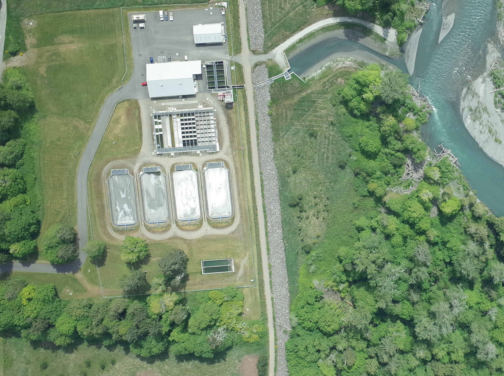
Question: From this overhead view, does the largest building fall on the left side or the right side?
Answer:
left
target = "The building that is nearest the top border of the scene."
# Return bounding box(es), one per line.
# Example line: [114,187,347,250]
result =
[193,22,224,44]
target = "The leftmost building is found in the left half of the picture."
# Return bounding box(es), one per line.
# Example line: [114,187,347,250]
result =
[146,59,201,98]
